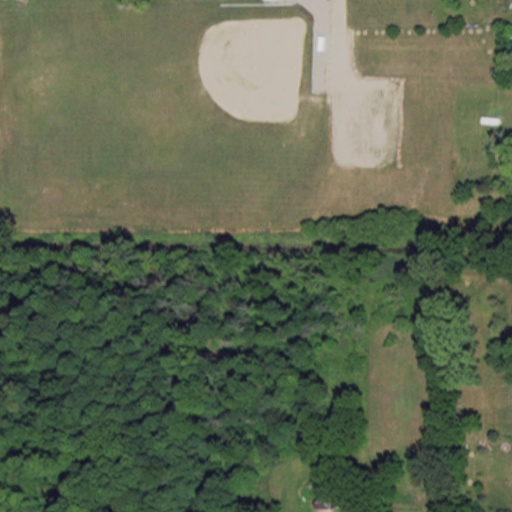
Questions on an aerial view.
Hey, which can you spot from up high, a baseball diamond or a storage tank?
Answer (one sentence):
Looking from above, you can make out a baseball diamond.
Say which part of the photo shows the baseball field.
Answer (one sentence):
The baseball field appears toward the top of the photo.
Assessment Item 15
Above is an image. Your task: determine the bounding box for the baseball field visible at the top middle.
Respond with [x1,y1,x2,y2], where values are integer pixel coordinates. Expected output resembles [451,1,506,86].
[199,20,304,122]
